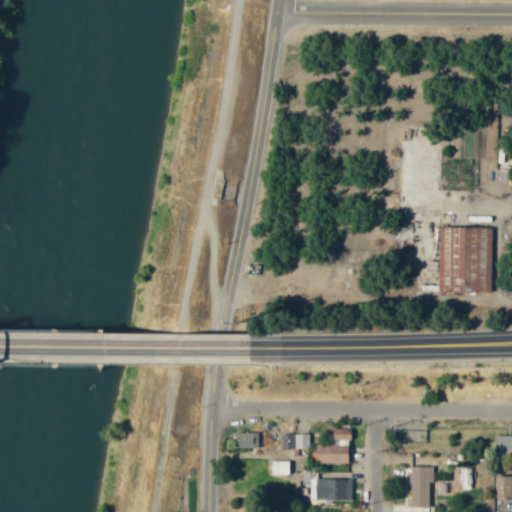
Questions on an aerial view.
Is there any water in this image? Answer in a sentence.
Yes, the picture does contain water.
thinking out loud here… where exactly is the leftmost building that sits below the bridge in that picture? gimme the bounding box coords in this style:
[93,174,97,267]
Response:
[234,433,260,453]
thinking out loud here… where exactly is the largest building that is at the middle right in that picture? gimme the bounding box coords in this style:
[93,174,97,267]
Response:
[440,228,493,292]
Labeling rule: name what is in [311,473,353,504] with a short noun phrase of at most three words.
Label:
house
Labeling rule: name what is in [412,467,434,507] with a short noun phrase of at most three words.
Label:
house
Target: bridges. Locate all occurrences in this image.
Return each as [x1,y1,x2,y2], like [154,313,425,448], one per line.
[0,330,249,372]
